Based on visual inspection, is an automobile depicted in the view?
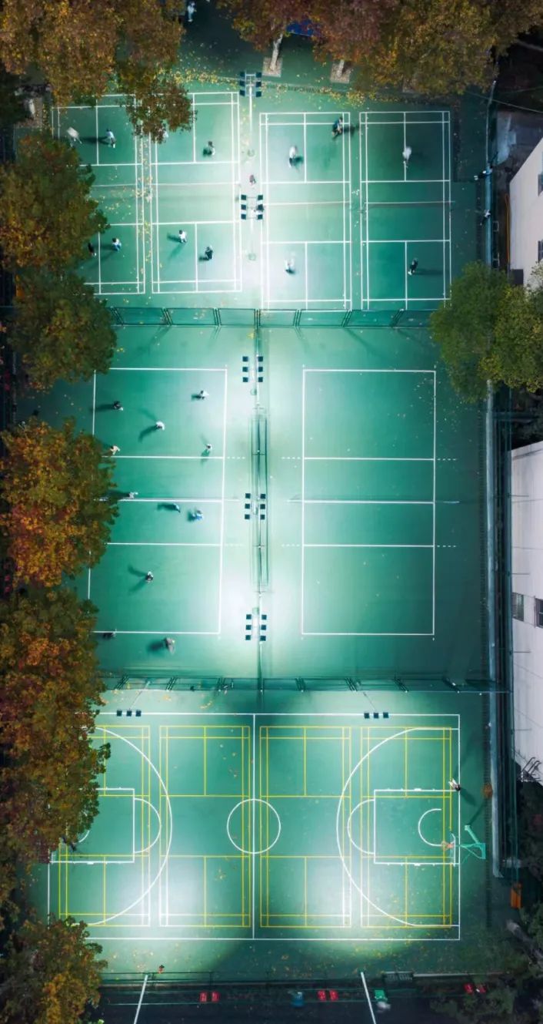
No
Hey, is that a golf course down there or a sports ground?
sports ground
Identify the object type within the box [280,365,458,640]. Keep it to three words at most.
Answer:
sports court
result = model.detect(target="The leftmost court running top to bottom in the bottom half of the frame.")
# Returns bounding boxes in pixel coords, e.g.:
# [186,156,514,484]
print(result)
[59,726,150,927]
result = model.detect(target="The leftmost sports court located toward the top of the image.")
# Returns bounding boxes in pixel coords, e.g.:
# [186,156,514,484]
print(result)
[49,89,148,301]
